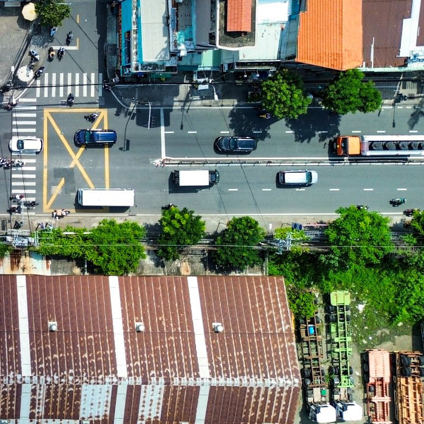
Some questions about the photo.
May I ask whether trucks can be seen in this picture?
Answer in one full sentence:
Yes, a truck appears in the view.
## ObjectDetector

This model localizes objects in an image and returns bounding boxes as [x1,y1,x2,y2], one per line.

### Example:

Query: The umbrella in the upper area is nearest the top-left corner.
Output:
[21,3,38,21]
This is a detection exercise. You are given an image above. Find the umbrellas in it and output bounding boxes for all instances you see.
[21,3,38,21]
[17,66,34,82]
